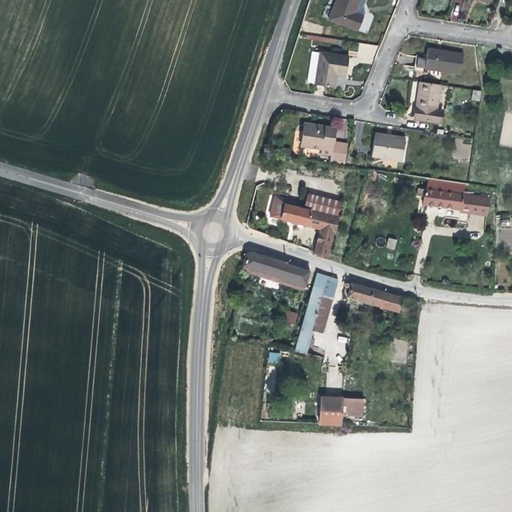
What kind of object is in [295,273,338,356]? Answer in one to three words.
shed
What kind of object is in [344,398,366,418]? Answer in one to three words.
building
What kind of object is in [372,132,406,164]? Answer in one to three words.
house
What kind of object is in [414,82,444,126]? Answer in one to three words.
house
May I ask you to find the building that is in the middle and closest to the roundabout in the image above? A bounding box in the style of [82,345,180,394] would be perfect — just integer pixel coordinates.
[242,251,310,290]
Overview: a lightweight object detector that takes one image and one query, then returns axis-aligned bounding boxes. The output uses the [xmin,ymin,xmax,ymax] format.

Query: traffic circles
[162,190,247,282]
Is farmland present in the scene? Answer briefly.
Yes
